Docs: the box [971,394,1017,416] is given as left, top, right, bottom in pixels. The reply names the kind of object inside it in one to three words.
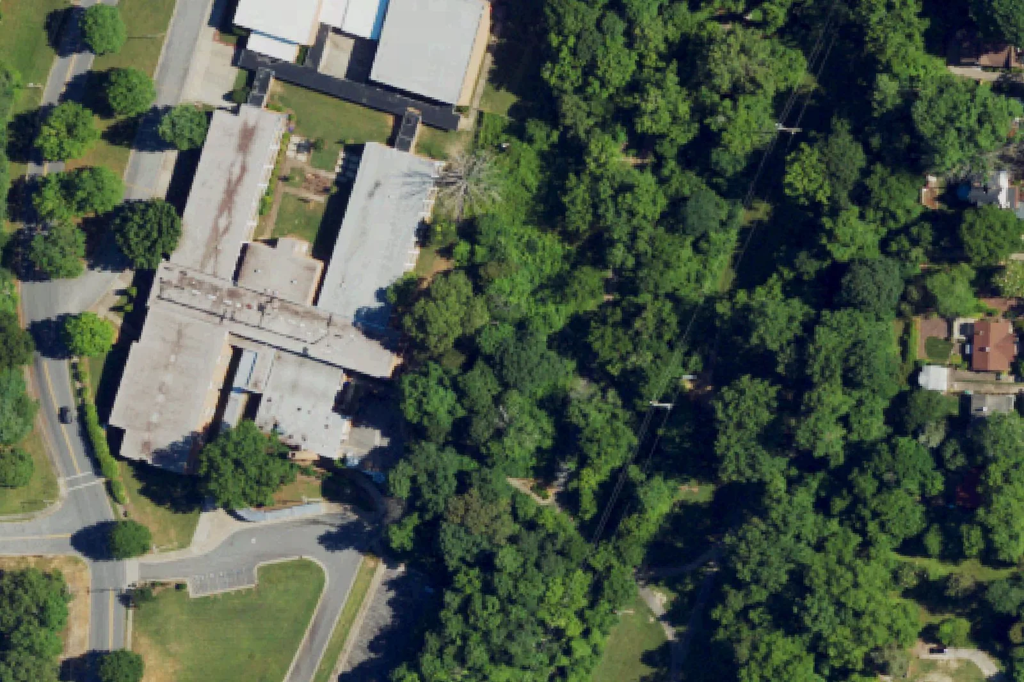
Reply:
house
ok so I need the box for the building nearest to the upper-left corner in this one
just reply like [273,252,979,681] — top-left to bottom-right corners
[234,0,322,62]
